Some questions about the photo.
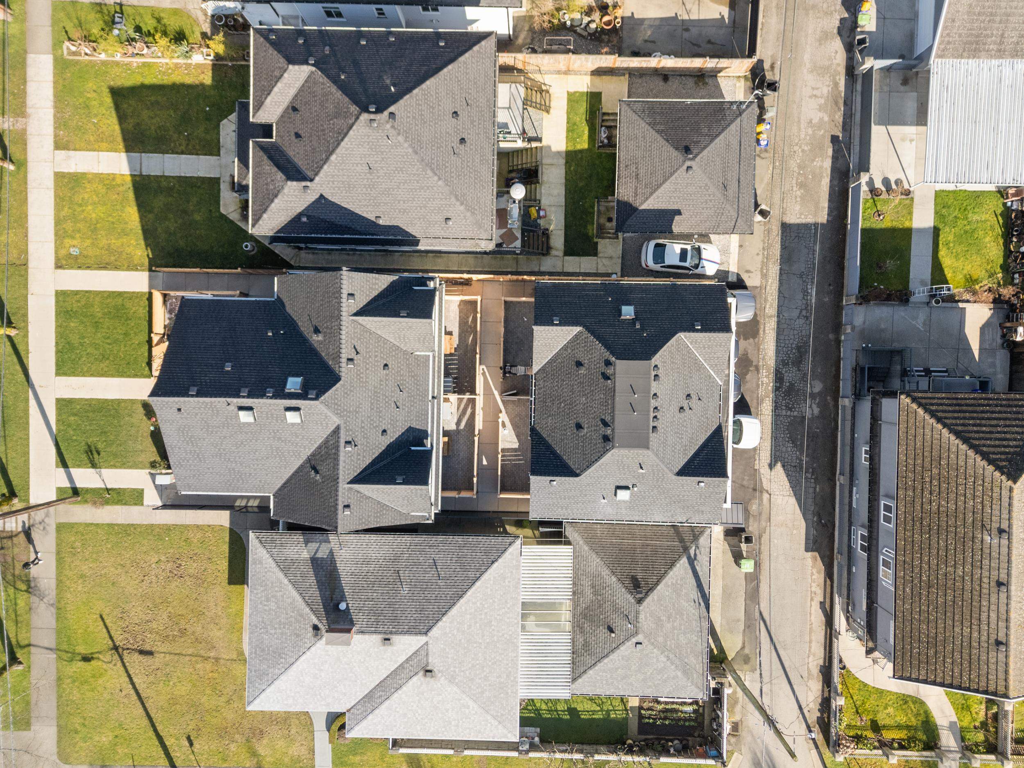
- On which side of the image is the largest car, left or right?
right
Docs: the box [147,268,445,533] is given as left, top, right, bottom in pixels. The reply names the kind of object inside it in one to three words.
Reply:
house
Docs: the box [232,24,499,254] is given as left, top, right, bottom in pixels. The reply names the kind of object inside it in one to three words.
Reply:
house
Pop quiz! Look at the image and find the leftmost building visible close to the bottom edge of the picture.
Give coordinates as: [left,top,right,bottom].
[244,528,524,744]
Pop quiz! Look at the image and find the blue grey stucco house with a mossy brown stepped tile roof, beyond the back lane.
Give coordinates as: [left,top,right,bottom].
[852,387,1024,704]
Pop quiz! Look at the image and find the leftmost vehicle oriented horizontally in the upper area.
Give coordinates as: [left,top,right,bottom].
[642,239,721,277]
